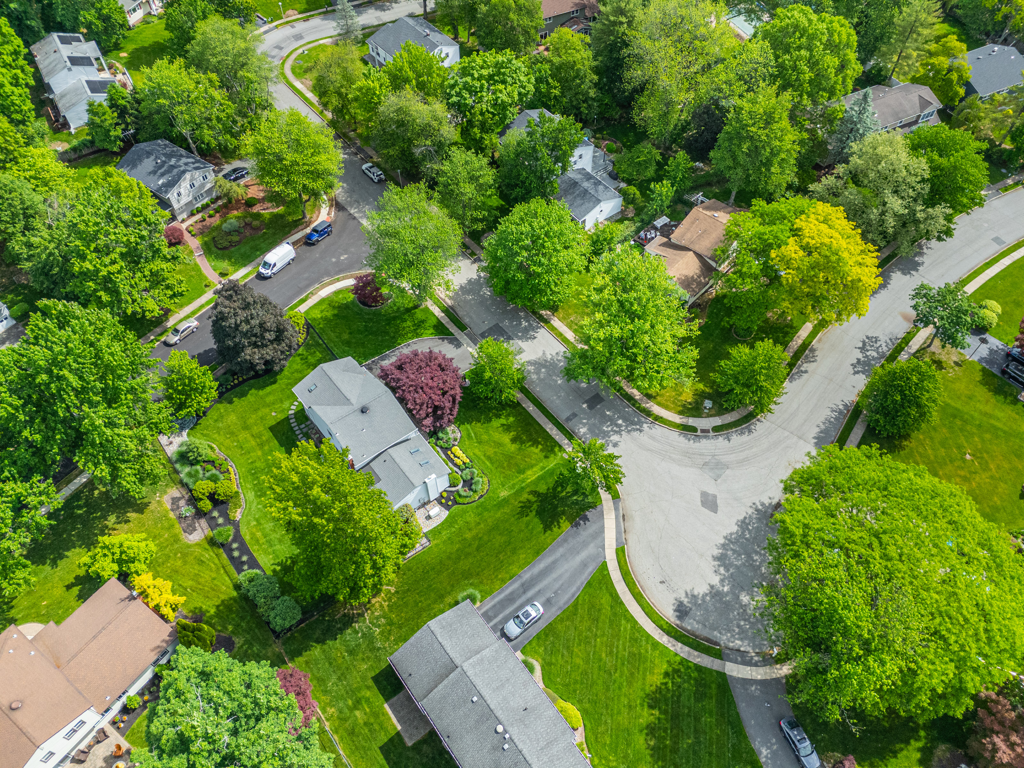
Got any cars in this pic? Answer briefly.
Yes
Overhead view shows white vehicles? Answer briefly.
Yes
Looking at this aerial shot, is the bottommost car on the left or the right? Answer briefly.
right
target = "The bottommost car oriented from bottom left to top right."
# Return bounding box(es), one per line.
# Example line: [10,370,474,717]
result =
[502,602,545,642]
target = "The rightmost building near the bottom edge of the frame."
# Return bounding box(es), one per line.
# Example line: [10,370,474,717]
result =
[386,599,605,768]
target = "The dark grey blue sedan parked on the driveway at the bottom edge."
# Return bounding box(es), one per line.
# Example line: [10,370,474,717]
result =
[780,718,822,768]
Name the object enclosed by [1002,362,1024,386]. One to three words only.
car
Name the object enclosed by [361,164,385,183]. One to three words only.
car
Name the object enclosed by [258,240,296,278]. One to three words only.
van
